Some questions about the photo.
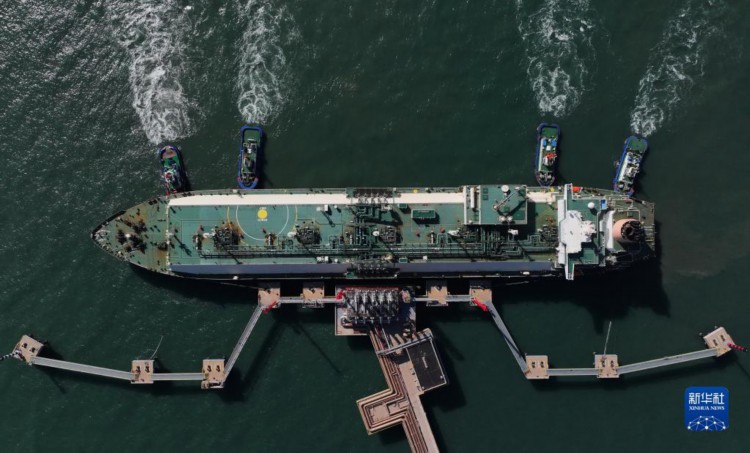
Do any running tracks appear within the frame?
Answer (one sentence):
No, the picture doesn't show any running track.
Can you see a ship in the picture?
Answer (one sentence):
Yes, the frame does contain a ship.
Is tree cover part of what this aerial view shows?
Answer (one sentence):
No, the picture contains no tree cover.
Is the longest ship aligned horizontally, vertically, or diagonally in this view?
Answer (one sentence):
In this picture, the longest ship is oriented horizontally.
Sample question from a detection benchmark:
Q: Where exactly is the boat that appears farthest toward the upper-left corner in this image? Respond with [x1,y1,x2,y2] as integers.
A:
[157,145,190,193]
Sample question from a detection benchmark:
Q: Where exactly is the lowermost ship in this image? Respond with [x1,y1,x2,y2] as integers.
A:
[89,183,656,281]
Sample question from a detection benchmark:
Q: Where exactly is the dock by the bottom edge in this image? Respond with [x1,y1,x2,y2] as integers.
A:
[356,330,444,453]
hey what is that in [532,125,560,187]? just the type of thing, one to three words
boat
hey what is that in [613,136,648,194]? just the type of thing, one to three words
boat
